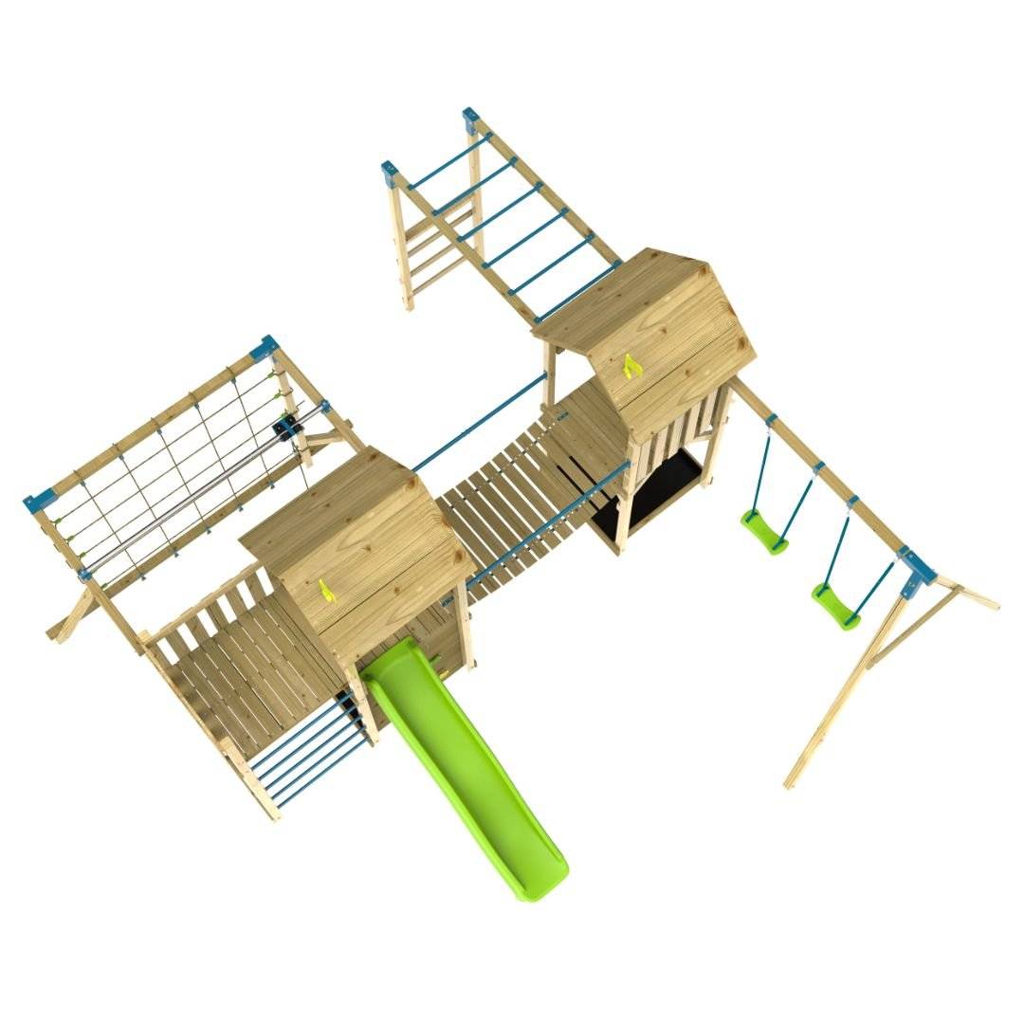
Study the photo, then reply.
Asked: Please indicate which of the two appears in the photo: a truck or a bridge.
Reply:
bridge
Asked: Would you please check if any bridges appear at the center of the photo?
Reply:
Yes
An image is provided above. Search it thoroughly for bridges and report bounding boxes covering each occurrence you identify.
[416,375,630,603]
